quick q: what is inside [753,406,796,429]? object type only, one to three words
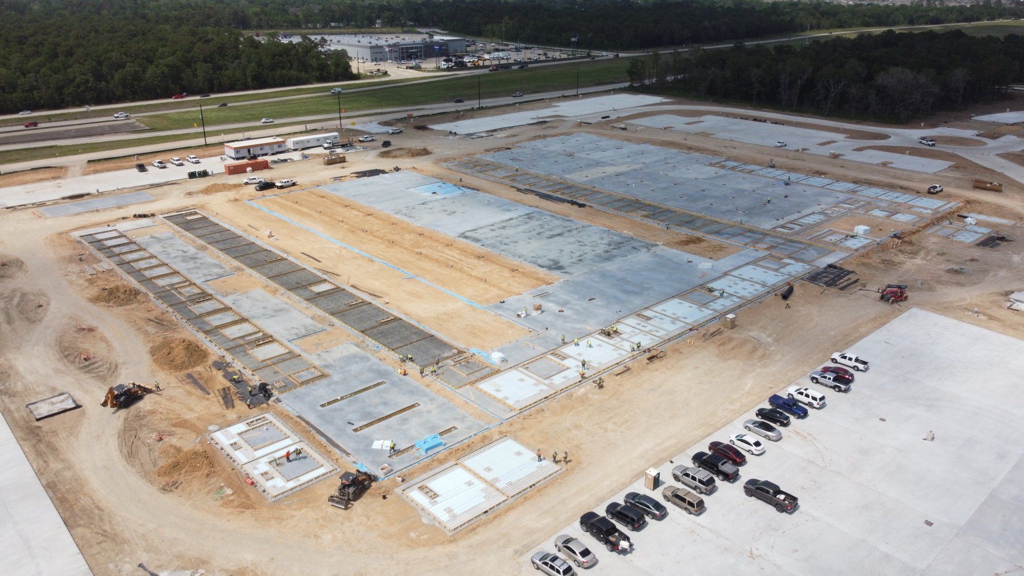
car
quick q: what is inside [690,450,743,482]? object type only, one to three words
truck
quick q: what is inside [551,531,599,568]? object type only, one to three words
car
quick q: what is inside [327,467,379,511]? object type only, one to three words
work vehicle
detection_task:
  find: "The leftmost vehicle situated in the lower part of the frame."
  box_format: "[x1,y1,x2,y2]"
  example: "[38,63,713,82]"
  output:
[100,381,152,413]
